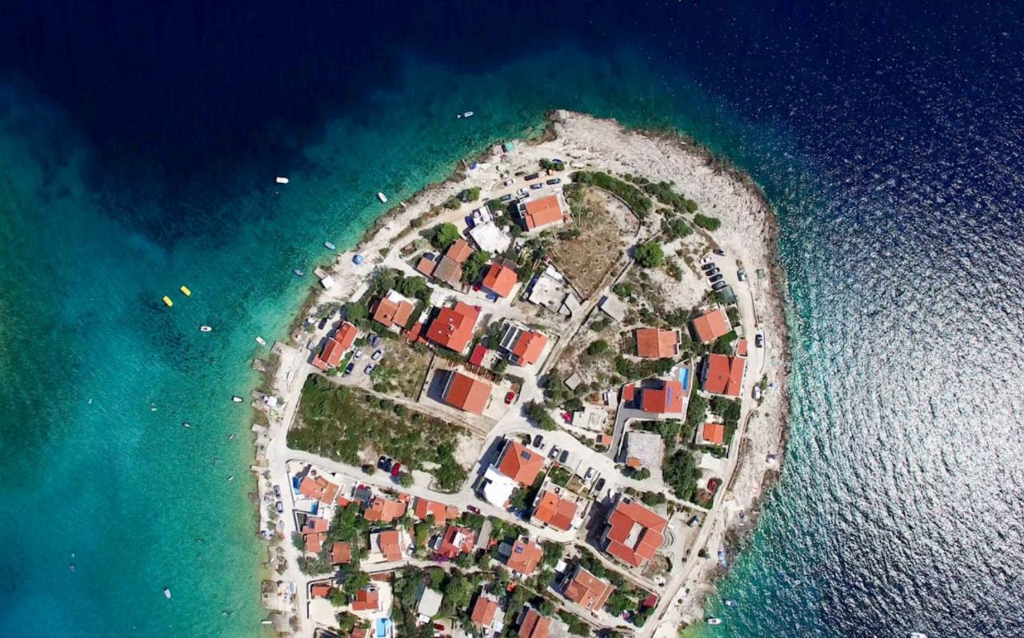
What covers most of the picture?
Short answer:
water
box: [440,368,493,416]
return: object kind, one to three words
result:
house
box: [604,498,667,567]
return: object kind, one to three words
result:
building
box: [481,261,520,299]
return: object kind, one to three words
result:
house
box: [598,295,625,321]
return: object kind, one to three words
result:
shed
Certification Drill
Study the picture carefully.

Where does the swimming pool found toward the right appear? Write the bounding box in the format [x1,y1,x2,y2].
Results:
[677,368,690,391]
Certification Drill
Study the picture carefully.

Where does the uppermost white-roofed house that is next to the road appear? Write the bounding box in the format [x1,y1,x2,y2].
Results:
[470,206,511,255]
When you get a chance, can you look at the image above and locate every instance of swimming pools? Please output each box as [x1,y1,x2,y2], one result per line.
[310,501,319,515]
[292,476,302,496]
[677,368,690,391]
[376,617,387,638]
